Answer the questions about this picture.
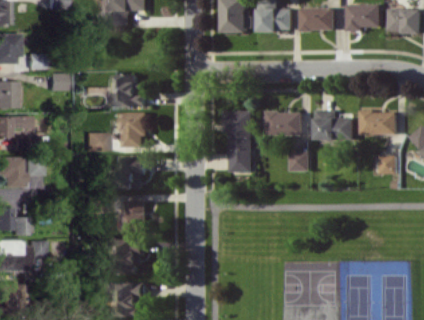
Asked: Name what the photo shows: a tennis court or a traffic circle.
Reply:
tennis court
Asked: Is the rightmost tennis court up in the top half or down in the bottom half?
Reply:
bottom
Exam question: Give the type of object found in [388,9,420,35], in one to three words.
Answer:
house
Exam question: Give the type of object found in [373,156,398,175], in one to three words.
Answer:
building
